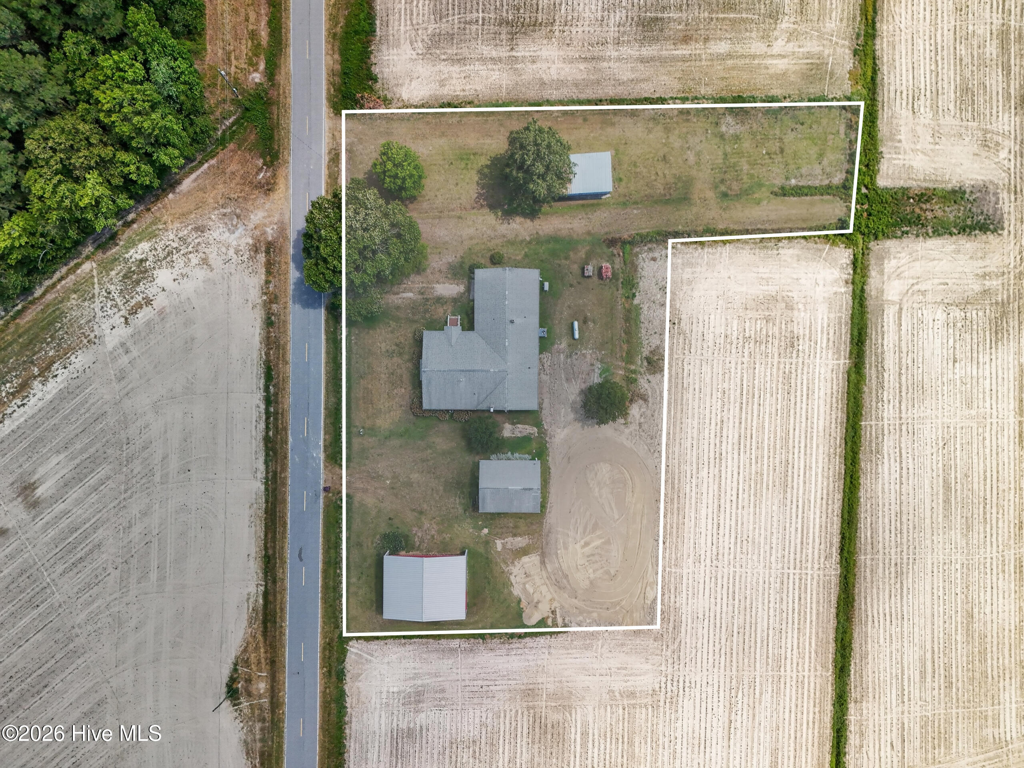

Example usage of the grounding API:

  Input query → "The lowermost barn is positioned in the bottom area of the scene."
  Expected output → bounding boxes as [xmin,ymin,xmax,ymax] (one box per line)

[383,549,468,622]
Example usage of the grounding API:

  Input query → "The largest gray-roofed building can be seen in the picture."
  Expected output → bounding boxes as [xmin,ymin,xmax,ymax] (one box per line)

[420,266,546,413]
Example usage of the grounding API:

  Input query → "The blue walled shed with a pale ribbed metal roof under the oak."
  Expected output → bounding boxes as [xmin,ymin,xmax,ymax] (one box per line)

[556,151,613,200]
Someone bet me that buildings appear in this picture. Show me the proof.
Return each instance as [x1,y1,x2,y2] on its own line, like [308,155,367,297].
[478,459,541,513]
[420,266,546,413]
[383,549,468,622]
[556,151,613,200]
